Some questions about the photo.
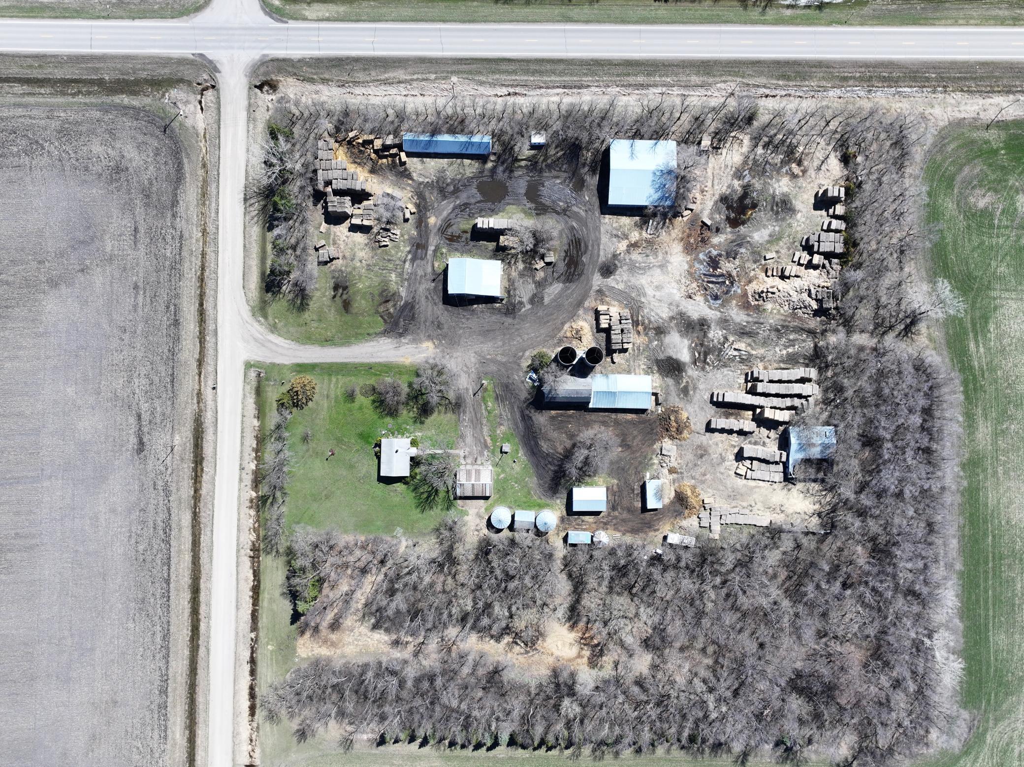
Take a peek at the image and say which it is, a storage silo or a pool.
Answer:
storage silo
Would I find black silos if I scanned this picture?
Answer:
Yes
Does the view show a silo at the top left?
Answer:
No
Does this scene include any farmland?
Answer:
Yes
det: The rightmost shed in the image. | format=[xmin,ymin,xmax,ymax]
[784,426,836,477]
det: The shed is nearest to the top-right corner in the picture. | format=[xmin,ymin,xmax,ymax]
[607,140,676,210]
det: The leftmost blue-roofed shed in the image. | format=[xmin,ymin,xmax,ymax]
[403,133,491,156]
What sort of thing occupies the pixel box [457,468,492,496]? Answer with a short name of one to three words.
building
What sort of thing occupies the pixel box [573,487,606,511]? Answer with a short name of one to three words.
shed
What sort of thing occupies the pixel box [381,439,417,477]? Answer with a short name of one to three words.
house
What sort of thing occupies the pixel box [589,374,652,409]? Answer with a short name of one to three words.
barn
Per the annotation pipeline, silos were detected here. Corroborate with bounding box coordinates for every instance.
[583,346,604,365]
[556,346,576,365]
[491,505,511,528]
[592,529,609,546]
[536,508,556,530]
